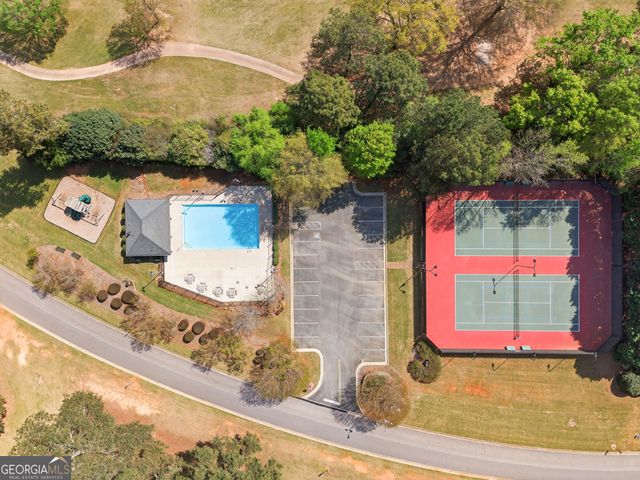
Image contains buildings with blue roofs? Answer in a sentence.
No, the frame has no building with a blue roof in it.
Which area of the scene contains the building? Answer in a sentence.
The building sits in the left section of the image.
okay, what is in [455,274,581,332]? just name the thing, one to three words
tennis court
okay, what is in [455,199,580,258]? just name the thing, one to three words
tennis court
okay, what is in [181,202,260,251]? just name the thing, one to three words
swimming pool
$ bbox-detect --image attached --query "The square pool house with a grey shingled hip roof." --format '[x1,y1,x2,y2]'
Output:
[126,199,174,256]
